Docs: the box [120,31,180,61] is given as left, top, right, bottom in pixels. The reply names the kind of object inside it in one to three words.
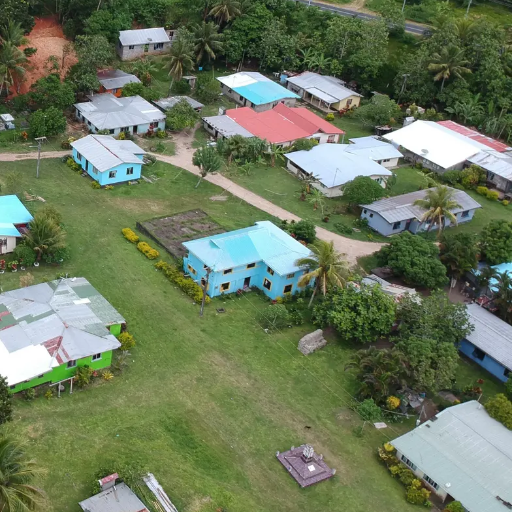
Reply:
house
